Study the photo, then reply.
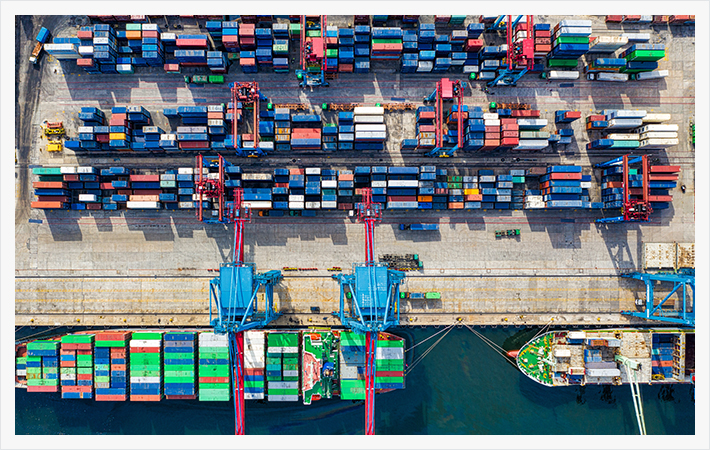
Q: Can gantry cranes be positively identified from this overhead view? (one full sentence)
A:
Yes, you can see a gantry crane in this photo.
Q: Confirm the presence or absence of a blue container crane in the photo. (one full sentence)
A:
Yes, there is a blue container crane in the image.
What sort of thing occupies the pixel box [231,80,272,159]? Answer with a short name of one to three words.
container crane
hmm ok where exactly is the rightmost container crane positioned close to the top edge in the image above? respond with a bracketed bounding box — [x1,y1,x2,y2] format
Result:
[487,4,535,89]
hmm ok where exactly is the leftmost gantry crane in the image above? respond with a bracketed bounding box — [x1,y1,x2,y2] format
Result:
[196,155,241,227]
